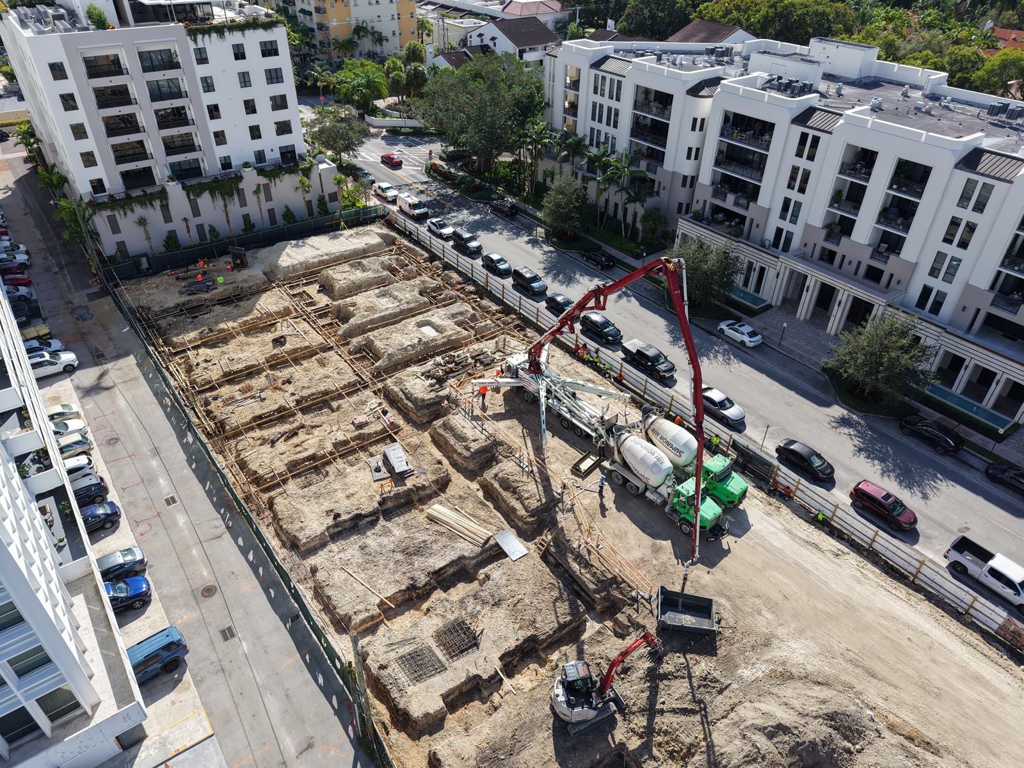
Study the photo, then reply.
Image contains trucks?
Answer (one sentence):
Yes, a truck appears in the view.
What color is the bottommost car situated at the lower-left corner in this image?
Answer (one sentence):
The color of the bottommost car situated at the lower-left corner is blue.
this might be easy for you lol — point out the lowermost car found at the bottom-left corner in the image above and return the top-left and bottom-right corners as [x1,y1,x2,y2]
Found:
[124,629,192,689]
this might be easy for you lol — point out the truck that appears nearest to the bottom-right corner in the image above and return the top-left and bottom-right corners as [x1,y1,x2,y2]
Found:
[946,540,1024,615]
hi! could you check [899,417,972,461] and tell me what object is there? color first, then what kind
black car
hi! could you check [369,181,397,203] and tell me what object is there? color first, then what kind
white truck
